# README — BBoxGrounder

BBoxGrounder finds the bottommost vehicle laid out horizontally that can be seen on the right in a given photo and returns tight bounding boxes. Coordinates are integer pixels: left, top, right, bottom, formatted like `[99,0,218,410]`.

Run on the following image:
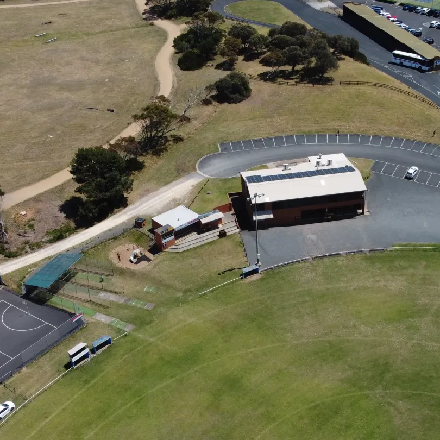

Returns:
[392,52,431,70]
